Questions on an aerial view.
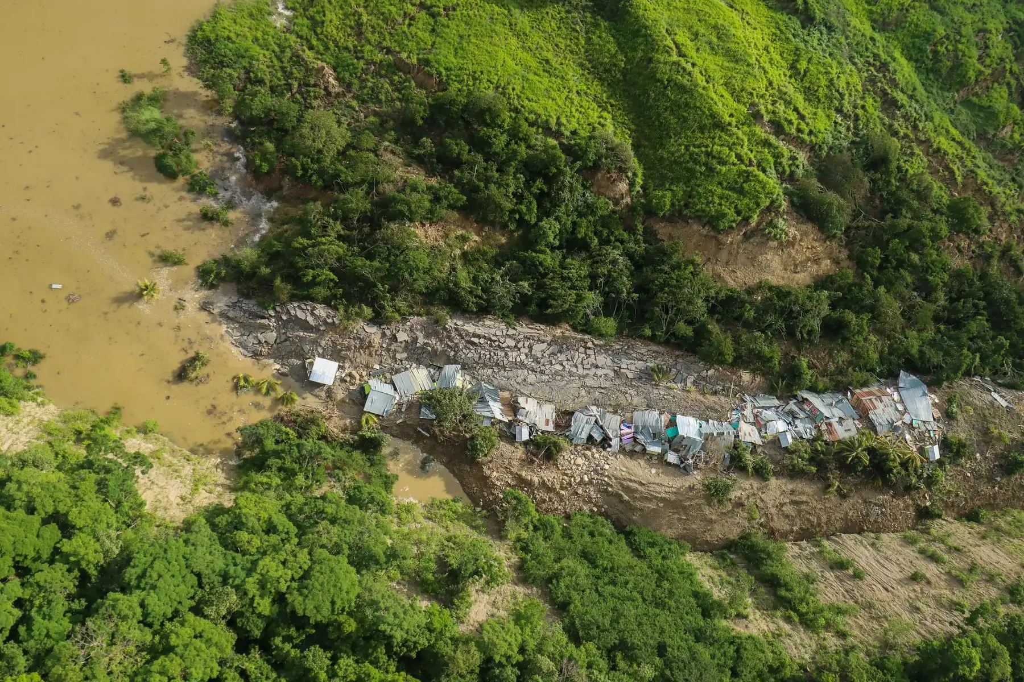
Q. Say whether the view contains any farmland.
No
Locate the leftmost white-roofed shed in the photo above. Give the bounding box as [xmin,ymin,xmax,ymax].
[305,357,338,388]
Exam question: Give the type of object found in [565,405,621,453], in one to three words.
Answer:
house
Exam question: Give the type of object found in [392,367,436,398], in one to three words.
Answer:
house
